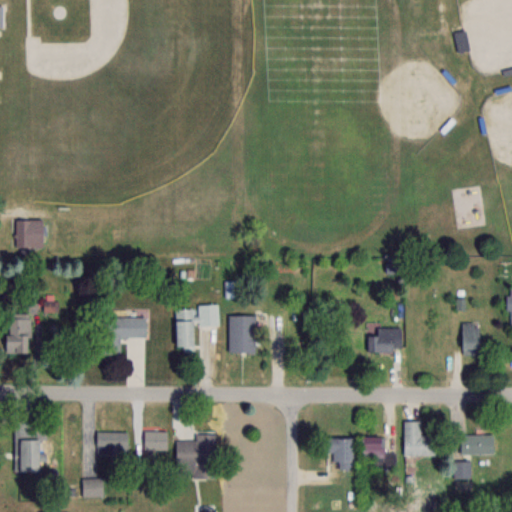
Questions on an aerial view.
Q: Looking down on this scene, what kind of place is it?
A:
sports ground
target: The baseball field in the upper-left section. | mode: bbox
[0,0,254,206]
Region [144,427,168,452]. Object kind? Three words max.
house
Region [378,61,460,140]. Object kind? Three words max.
baseball field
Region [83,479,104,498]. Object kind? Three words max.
building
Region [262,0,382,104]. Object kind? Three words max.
sports field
